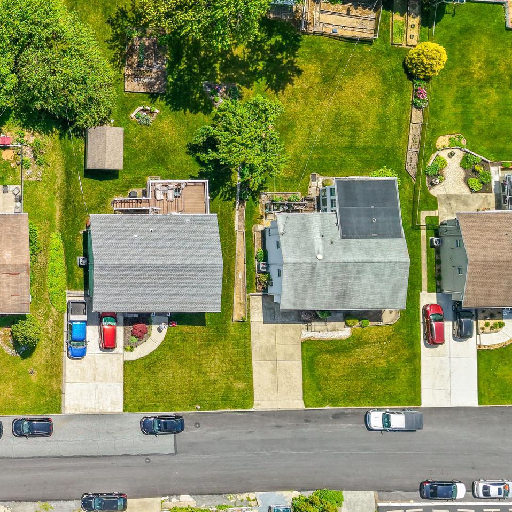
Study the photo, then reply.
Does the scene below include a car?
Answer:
Yes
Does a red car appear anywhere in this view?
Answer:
Yes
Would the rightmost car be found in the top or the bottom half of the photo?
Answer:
bottom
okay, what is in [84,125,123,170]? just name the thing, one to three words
shed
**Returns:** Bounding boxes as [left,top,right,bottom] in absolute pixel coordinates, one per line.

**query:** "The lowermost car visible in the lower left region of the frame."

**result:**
[80,491,127,512]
